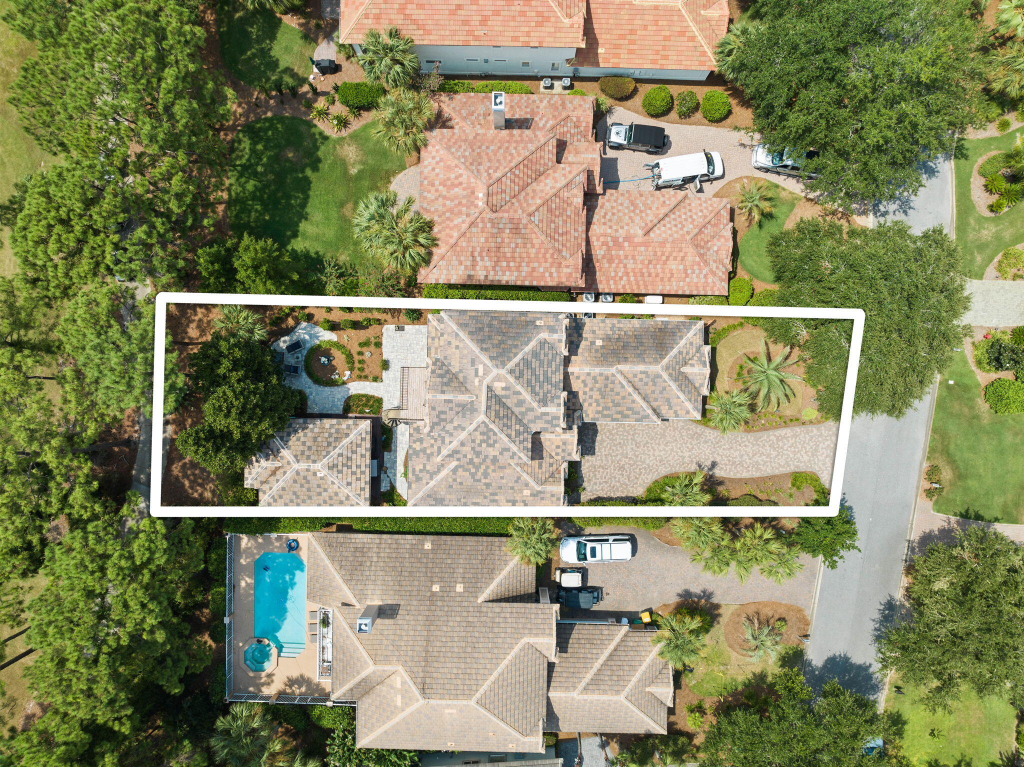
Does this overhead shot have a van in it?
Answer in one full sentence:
Yes, a van can be made out from above.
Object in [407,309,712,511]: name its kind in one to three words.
house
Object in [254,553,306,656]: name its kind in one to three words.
swimming pool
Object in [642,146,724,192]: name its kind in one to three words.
van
